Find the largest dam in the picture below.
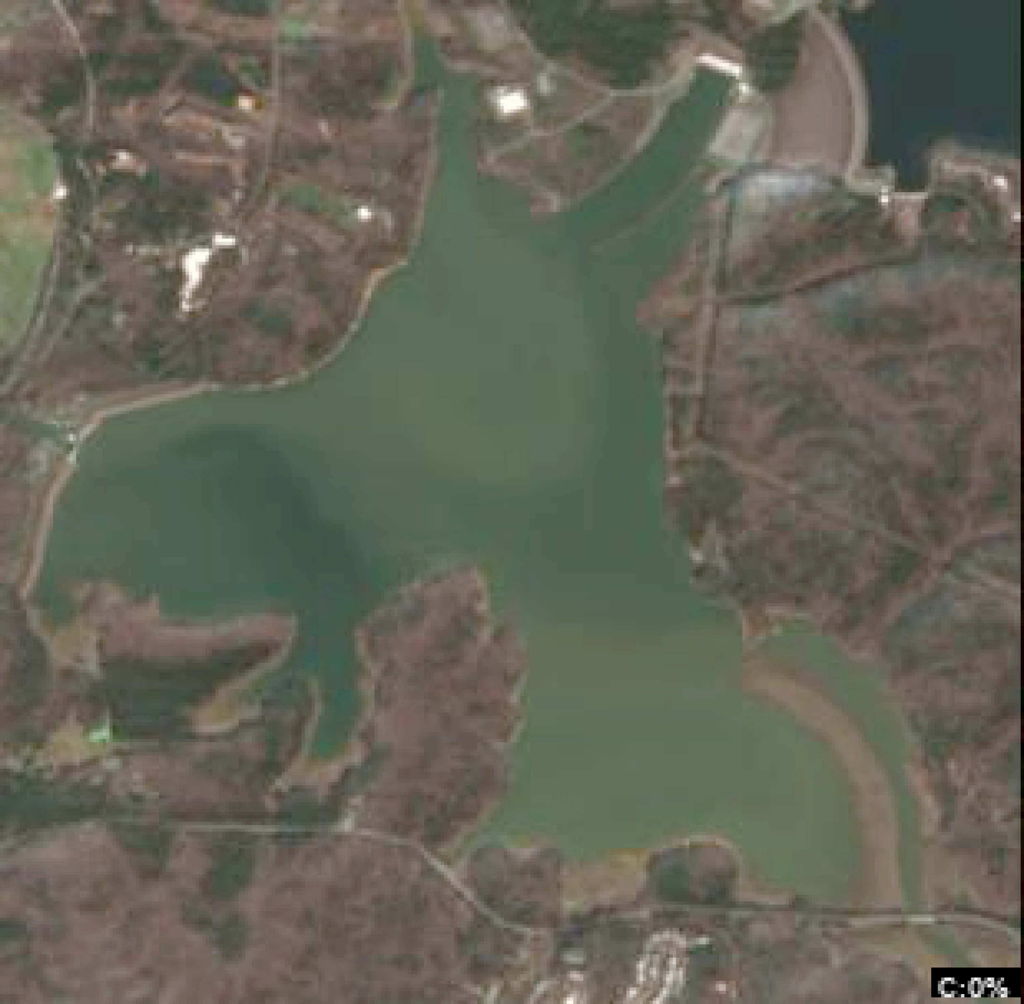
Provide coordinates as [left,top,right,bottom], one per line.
[770,3,873,173]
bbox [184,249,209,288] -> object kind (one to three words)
building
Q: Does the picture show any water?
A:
Yes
